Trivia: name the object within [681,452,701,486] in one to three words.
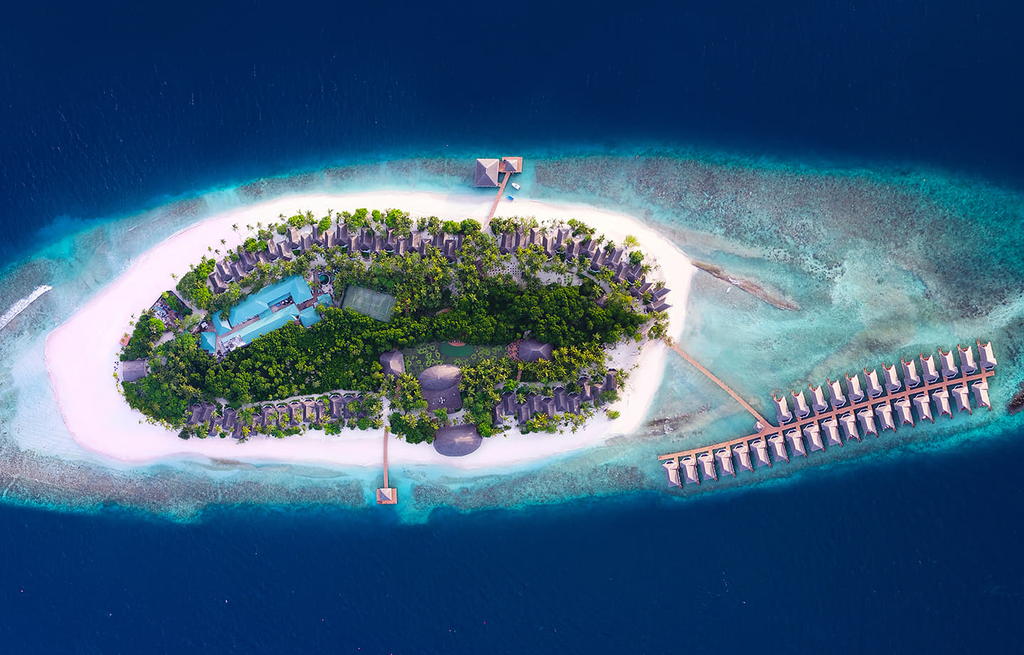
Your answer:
house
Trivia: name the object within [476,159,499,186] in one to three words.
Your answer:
building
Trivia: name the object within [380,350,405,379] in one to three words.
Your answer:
building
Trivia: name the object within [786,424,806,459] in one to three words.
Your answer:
house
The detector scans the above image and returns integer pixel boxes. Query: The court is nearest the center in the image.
[342,285,396,321]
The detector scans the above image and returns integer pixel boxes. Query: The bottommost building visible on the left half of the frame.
[377,488,397,504]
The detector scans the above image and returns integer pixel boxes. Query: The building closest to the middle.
[517,339,554,362]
